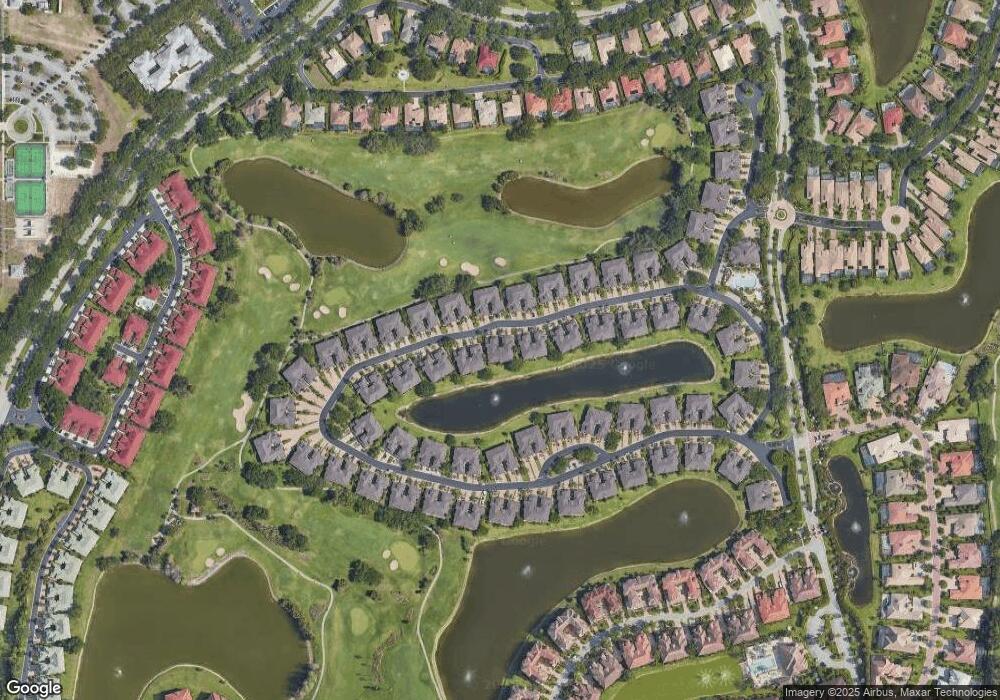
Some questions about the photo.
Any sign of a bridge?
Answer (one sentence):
No, I can't see a single bridge in this photo.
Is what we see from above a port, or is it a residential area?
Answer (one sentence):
The area seen from above is a residential area.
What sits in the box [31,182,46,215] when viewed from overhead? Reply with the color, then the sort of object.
green tennis court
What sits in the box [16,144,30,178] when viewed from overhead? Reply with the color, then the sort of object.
green tennis court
